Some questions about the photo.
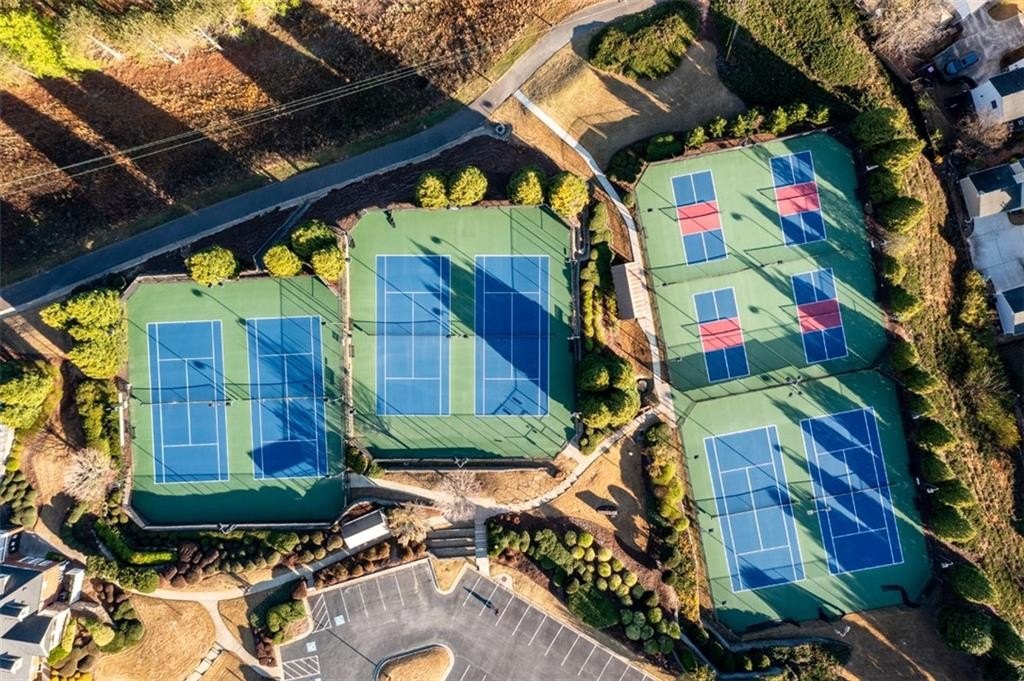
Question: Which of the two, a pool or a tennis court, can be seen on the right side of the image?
tennis court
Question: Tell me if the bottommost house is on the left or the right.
left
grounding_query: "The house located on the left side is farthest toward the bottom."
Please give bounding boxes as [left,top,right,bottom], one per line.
[0,554,68,681]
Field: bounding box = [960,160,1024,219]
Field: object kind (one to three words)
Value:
house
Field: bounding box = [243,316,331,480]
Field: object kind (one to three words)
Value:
tennis court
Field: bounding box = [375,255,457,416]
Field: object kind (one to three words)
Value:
tennis court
